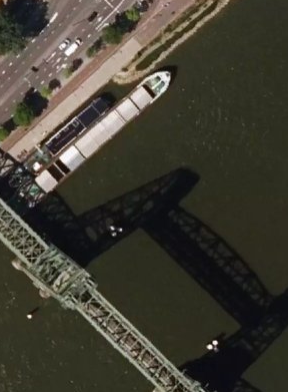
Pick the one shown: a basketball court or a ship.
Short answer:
ship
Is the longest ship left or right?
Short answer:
left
